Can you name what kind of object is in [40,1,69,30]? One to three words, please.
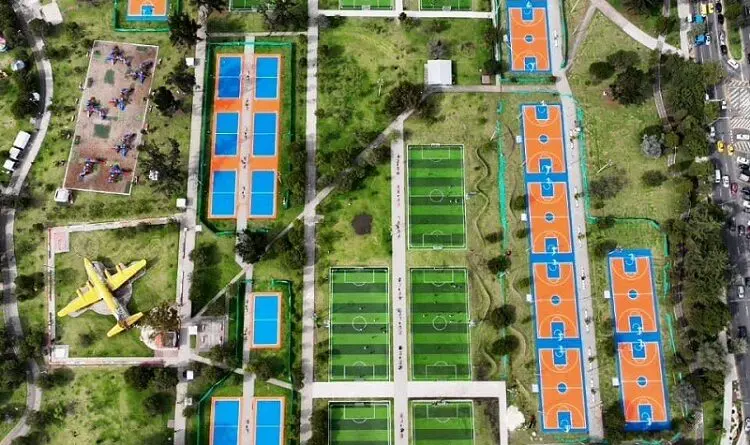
building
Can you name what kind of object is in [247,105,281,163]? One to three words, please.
sports court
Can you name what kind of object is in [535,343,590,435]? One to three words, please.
basketball court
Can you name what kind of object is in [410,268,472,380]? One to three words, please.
soccer field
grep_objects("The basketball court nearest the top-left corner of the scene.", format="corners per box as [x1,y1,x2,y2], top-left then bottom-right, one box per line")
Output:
[125,0,170,21]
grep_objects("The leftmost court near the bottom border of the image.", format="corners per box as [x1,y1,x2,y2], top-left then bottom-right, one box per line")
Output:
[207,396,245,445]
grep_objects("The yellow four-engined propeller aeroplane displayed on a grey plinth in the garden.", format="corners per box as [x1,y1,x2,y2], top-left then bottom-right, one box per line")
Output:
[57,258,147,337]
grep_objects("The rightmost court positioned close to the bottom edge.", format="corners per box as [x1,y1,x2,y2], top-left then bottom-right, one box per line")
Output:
[614,337,672,430]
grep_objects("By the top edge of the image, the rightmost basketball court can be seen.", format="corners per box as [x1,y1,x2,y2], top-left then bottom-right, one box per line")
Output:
[506,2,553,75]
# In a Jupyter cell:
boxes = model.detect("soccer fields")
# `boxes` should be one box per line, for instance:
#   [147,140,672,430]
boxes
[413,400,475,445]
[339,0,395,10]
[418,0,473,11]
[410,268,472,380]
[330,401,390,445]
[408,144,466,249]
[330,268,390,381]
